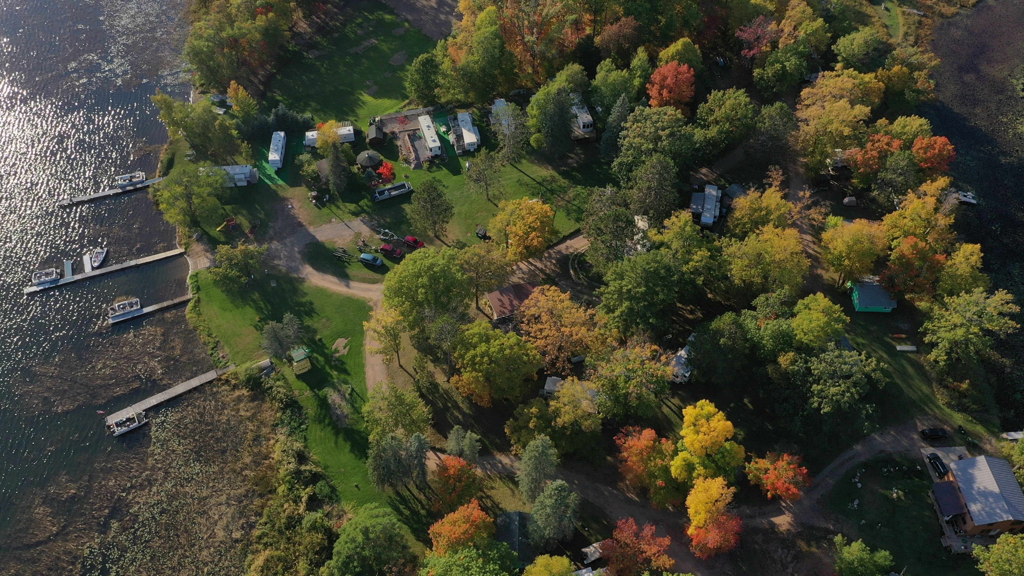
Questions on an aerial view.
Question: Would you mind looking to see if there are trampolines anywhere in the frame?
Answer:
No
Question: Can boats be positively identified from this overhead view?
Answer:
Yes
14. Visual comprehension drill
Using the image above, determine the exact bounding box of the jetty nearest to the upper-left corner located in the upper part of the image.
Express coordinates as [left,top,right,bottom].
[60,178,161,206]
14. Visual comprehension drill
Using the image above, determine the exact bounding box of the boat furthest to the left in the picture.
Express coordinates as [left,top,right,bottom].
[31,266,62,283]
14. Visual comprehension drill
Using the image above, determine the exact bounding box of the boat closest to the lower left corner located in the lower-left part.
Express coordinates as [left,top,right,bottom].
[109,409,149,436]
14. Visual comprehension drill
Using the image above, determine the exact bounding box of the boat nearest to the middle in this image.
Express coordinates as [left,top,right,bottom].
[373,181,414,201]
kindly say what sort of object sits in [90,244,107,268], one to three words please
boat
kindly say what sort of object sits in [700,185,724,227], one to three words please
trailer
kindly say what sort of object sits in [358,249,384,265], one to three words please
car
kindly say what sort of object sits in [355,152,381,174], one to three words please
gazebo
